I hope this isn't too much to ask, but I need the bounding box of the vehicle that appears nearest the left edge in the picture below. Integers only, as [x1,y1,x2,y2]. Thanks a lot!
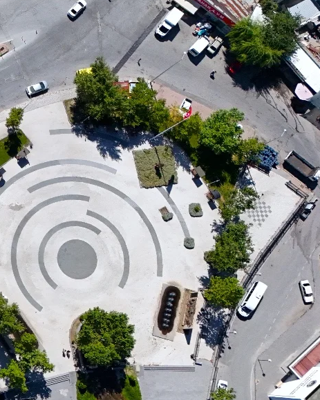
[25,83,48,96]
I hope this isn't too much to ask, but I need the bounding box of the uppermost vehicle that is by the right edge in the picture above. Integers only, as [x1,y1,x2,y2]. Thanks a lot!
[284,148,320,182]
